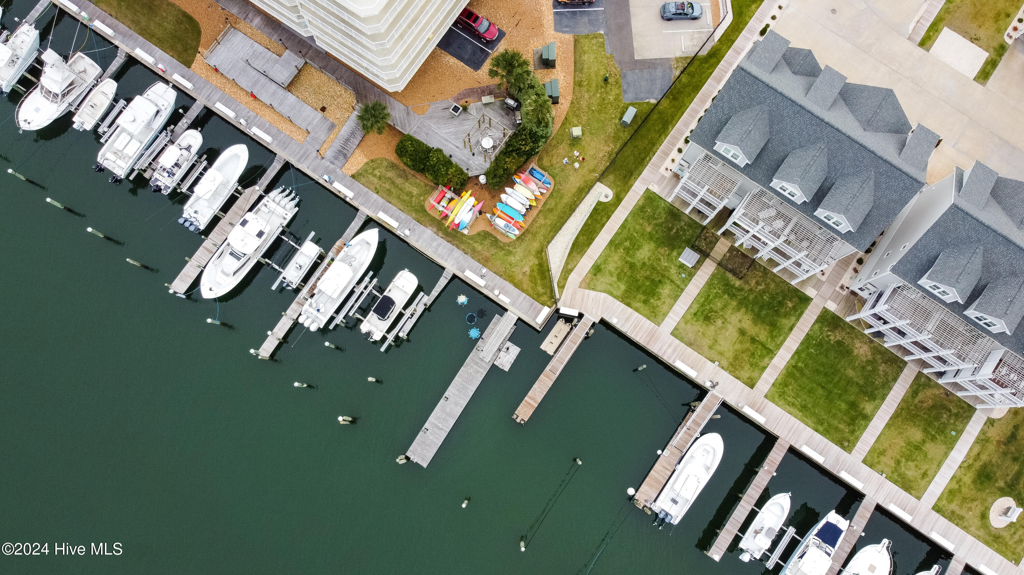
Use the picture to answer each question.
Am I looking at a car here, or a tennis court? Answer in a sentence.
I can see a car in this picture.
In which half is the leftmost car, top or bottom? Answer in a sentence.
The leftmost car is in the top half of the image.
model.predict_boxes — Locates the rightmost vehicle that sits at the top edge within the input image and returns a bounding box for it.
[661,0,702,22]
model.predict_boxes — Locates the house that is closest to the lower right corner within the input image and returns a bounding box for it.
[847,156,1024,419]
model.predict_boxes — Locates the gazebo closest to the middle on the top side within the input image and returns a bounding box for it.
[463,106,512,165]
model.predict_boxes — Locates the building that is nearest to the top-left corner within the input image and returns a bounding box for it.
[249,0,472,93]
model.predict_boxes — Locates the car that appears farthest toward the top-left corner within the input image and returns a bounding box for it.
[455,7,498,43]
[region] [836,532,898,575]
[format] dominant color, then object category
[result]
white boat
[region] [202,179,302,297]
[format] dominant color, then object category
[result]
white boat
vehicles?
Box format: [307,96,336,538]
[455,7,498,43]
[553,0,597,6]
[661,0,702,22]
